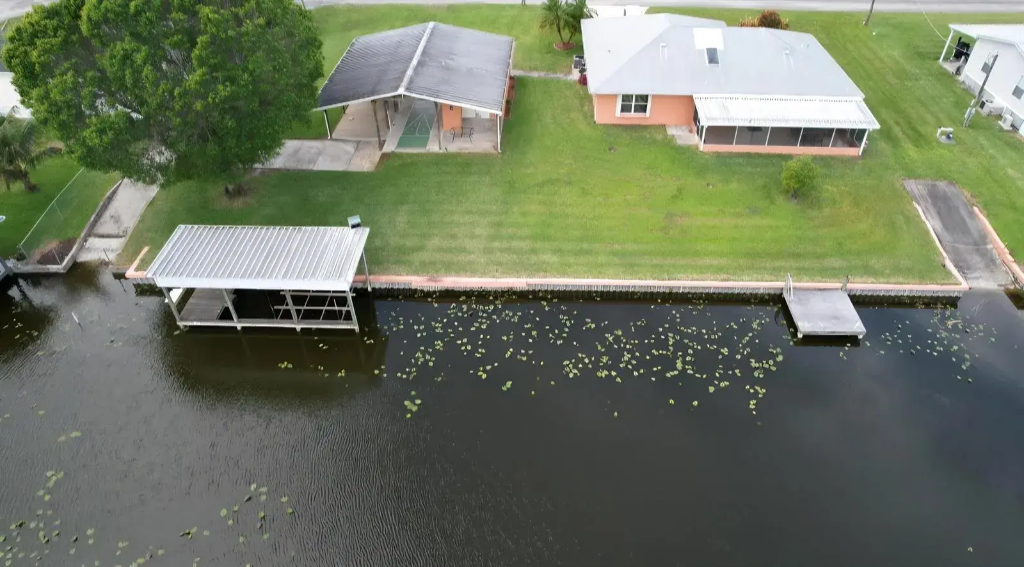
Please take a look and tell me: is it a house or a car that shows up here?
house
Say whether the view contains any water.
Yes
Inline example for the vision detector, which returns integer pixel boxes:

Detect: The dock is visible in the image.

[781,275,869,345]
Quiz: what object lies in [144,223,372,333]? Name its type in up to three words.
building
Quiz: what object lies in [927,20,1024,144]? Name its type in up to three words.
house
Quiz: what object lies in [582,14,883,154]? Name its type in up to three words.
house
